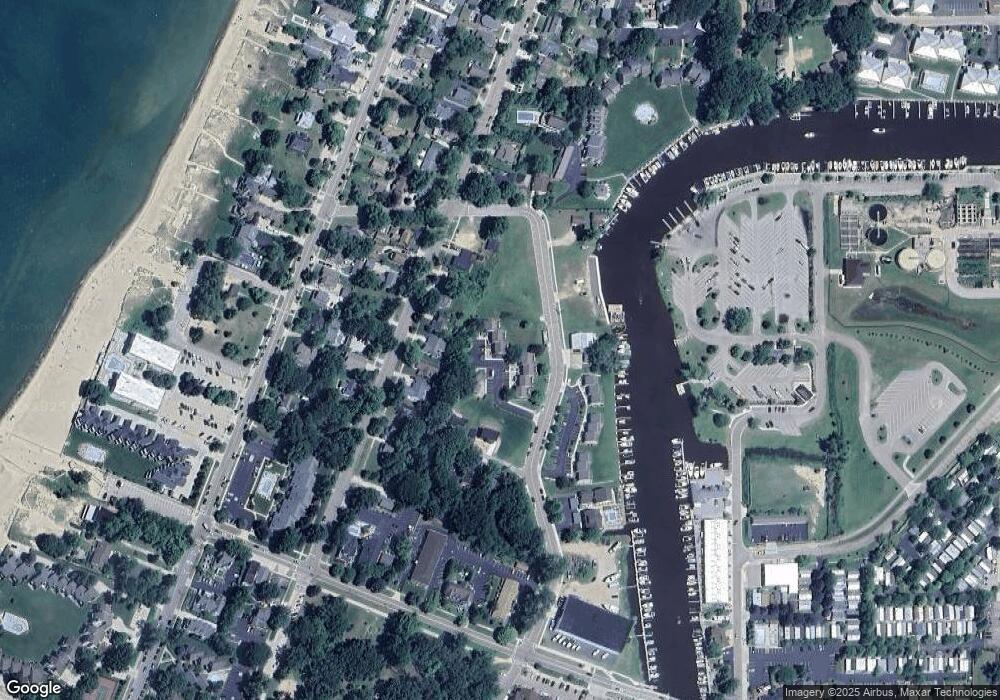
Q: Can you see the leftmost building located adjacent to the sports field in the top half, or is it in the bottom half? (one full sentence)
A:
The leftmost building located adjacent to the sports field is in the bottom half of the image.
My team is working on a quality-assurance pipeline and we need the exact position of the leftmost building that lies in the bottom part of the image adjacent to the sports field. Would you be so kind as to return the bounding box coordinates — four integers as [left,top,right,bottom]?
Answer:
[703,519,729,602]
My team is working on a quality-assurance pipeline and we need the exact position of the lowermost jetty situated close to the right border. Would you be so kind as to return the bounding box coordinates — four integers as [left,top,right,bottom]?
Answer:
[702,159,965,190]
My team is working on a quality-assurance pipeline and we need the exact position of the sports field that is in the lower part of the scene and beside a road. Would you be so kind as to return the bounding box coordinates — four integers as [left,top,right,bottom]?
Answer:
[752,462,821,508]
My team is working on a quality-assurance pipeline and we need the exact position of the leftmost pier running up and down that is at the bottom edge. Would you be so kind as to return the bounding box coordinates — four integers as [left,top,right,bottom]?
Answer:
[631,531,660,679]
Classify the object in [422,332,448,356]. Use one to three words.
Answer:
house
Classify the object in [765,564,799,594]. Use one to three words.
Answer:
building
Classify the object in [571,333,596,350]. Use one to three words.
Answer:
shed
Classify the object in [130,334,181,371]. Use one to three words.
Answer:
building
